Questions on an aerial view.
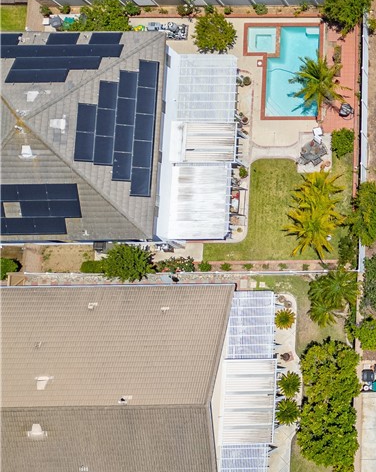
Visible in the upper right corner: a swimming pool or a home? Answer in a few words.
swimming pool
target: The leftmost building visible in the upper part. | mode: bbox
[0,30,184,247]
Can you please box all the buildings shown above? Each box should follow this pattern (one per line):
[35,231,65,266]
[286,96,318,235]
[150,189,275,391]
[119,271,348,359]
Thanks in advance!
[0,30,184,247]
[0,283,235,472]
